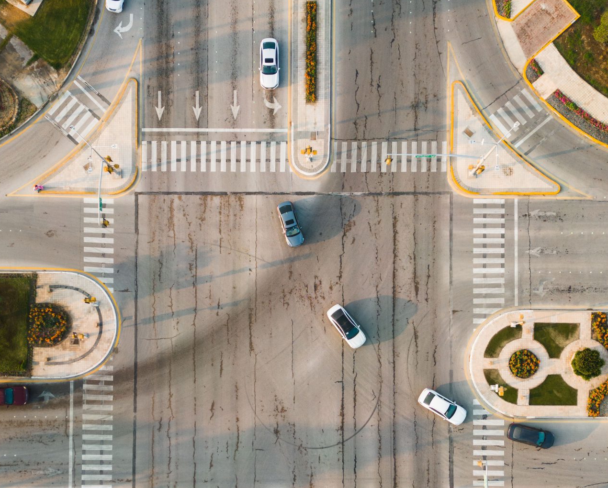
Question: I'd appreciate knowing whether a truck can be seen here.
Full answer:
No, there appears to be no truck in this shot.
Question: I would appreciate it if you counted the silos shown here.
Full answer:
There are no silos in this view.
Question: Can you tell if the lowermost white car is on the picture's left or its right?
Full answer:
The lowermost white car is on the right side of the image.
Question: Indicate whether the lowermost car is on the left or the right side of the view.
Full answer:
You can find the lowermost car on the right side of the picture.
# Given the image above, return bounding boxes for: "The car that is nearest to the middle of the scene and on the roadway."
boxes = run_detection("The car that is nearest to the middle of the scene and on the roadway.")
[276,200,305,249]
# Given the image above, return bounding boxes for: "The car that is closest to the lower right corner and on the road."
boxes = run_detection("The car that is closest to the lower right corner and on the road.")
[506,423,555,449]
